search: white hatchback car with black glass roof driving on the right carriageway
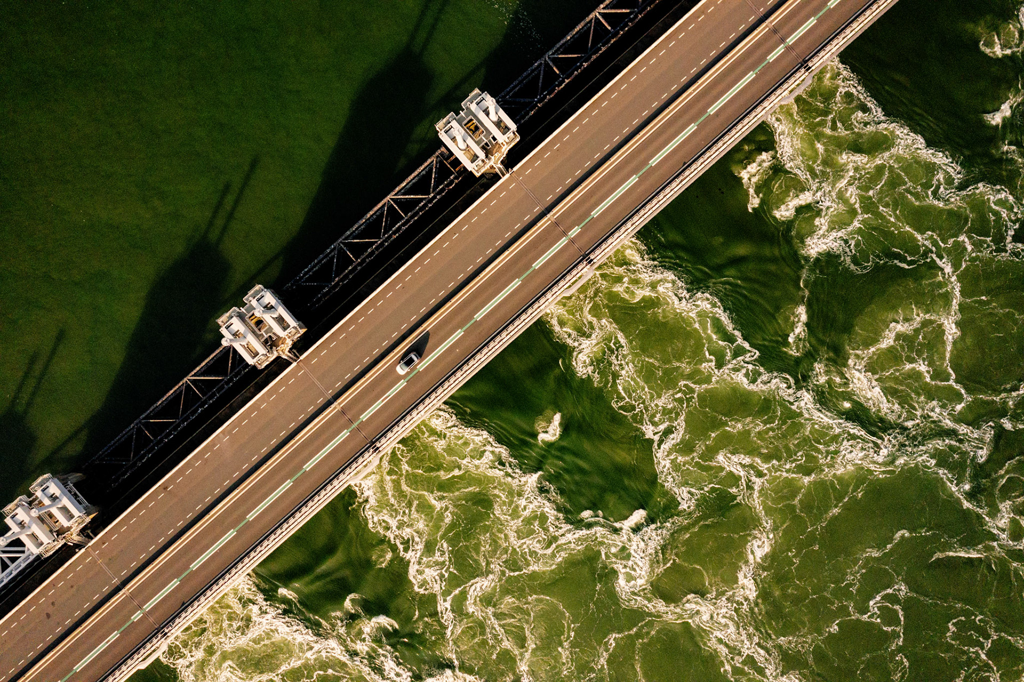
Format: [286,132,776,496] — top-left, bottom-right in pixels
[397,351,421,375]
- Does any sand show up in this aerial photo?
No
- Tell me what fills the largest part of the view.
water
